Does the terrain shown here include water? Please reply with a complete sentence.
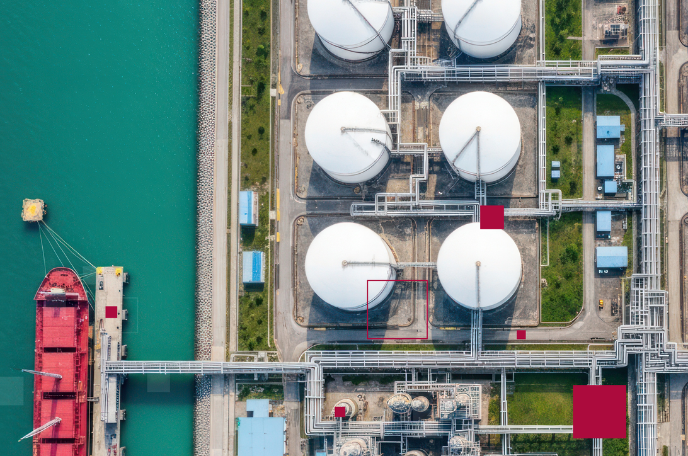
Yes, there is water in the image.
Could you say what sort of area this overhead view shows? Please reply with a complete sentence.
It's an industrial area.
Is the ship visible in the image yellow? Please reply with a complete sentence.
No, the color of the ship is red.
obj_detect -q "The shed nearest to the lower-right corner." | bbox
[597,246,628,267]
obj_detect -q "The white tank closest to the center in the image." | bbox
[304,221,398,313]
